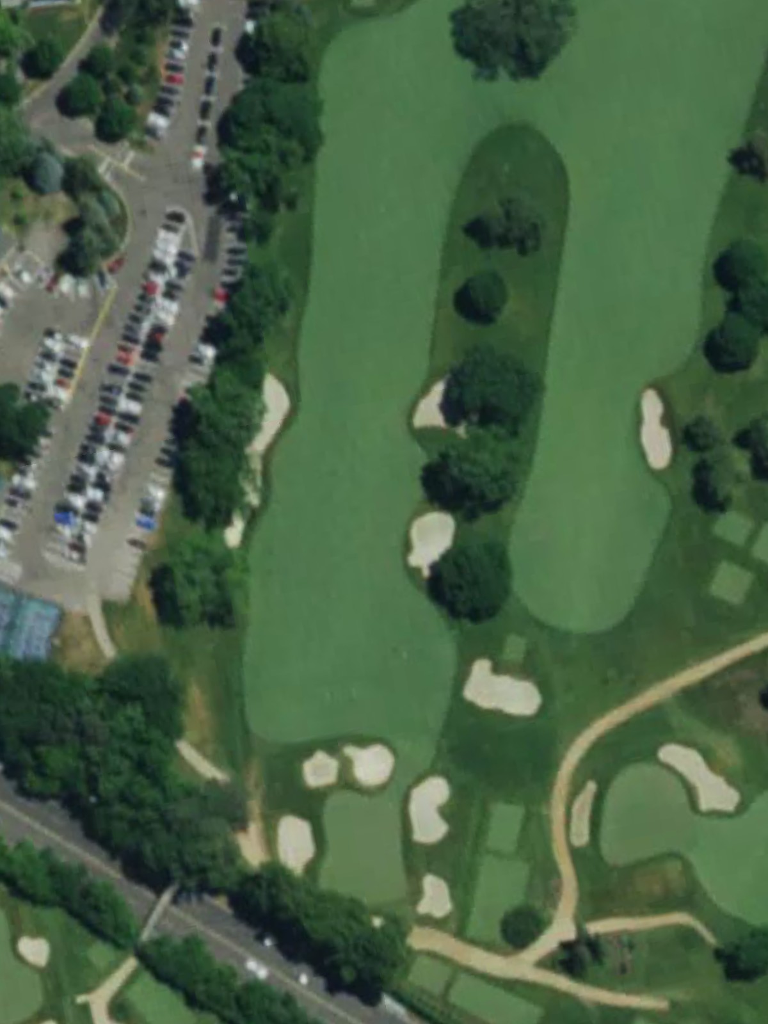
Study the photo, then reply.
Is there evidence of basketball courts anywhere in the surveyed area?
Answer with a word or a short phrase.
No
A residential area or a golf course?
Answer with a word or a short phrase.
golf course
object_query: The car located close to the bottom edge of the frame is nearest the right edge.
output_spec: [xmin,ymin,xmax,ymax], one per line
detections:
[294,971,312,985]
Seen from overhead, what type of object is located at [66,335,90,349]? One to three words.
vehicle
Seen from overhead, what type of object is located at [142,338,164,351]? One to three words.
vehicle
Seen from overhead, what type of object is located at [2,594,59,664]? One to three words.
tennis court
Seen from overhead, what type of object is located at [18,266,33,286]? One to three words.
car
